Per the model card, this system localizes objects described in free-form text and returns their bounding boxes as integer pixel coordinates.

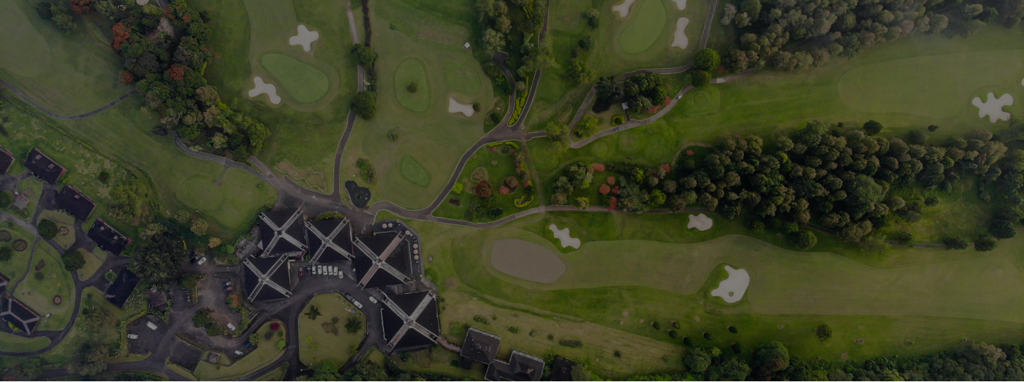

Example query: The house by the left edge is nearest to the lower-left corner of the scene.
[0,298,43,335]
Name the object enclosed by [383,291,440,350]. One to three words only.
building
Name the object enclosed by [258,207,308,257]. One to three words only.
building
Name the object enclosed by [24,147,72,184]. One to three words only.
house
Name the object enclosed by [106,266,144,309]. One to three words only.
house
